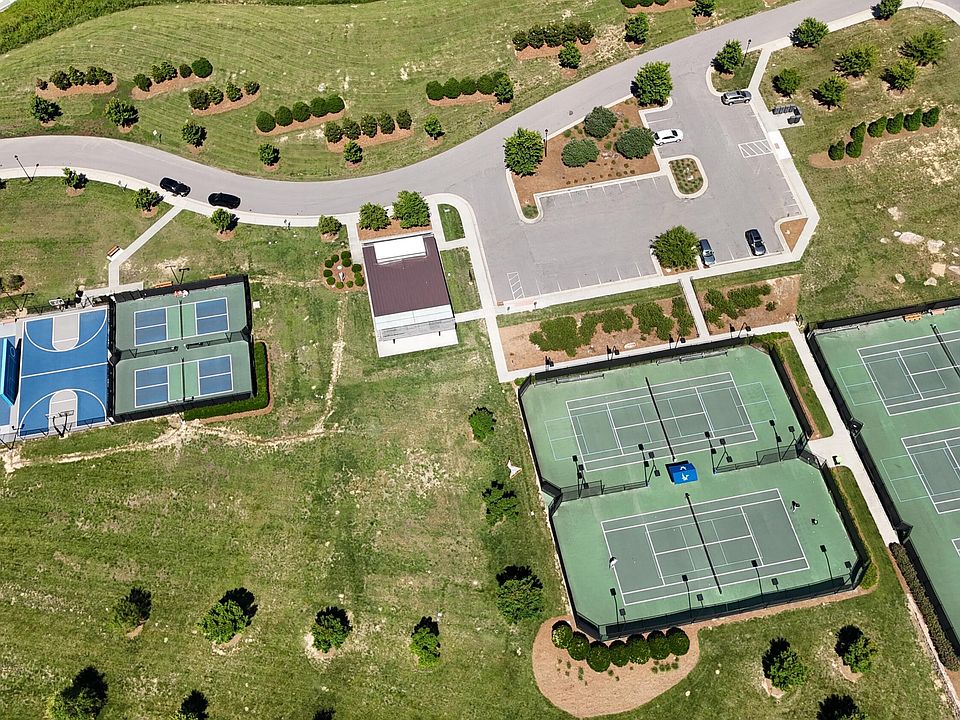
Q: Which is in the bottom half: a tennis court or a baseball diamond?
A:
tennis court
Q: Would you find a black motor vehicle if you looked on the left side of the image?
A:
Yes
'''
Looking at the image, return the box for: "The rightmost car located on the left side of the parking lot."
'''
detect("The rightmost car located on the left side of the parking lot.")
[209,193,241,209]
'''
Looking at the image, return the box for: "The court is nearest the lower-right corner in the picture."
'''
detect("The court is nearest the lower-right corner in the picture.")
[898,523,960,667]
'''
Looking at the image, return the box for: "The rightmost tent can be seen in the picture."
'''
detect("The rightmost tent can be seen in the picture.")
[667,463,698,491]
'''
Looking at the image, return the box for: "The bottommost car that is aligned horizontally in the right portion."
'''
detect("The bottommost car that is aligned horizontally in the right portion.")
[652,129,682,145]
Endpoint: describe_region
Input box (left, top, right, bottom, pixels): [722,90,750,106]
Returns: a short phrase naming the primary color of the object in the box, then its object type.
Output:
gray car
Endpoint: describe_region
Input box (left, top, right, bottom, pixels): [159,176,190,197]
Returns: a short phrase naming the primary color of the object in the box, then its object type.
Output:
black car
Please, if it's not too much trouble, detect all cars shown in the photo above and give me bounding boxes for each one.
[698,239,716,267]
[652,129,682,145]
[722,90,750,106]
[745,230,765,256]
[209,193,241,209]
[159,176,190,197]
